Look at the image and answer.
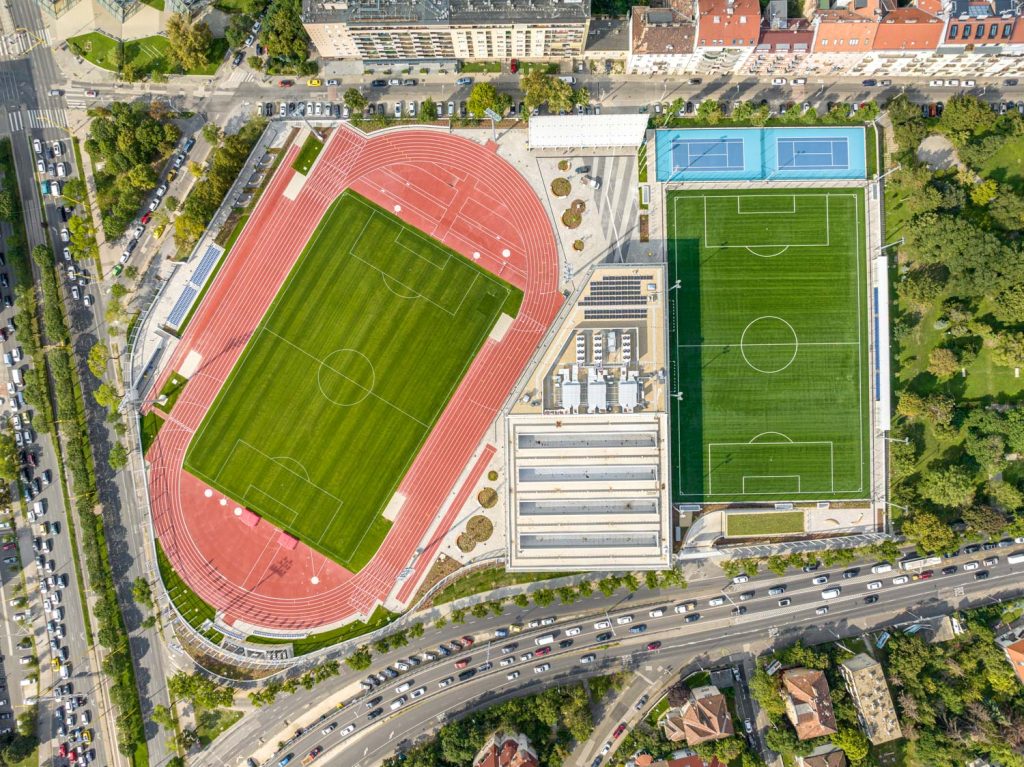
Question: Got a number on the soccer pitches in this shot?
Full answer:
The count of soccer pitches comes to 2.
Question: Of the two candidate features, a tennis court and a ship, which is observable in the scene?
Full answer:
There is a tennis court in the scene.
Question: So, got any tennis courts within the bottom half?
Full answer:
No, no tennis court is visible within the bottom half.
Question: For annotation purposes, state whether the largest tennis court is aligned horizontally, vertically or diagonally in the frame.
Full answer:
The largest tennis court is oriented horizontally.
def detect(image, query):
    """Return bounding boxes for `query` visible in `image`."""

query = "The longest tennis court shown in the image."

[656,126,866,181]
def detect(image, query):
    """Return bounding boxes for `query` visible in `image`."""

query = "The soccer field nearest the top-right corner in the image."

[667,188,870,503]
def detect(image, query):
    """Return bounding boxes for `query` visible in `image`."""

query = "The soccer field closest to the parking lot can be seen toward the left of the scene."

[182,188,525,572]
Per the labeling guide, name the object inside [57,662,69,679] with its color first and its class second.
white vehicle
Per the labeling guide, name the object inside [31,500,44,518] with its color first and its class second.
white vehicle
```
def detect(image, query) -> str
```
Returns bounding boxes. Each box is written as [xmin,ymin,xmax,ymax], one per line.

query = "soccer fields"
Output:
[667,188,870,503]
[182,188,525,572]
